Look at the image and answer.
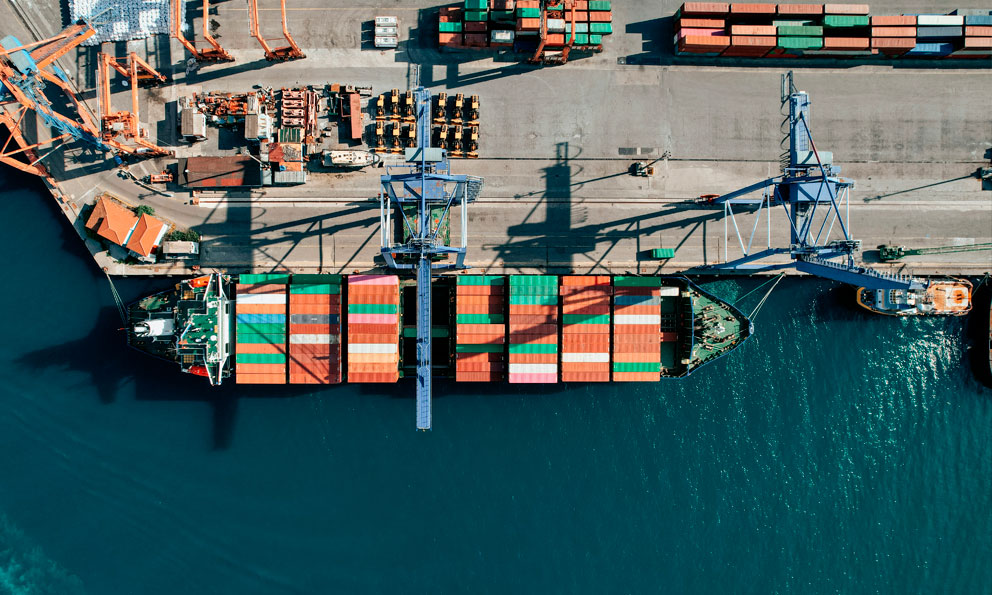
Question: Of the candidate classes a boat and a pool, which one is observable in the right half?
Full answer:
It is a boat that can be seen in the right half.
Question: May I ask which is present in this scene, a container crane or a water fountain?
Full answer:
I can see a container crane in this picture.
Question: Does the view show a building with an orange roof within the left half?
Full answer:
Yes, you'll find a building with an orange roof within the left half.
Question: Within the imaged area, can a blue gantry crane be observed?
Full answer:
Yes, this view includes a blue gantry crane.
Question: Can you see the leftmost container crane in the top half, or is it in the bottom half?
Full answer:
The top half of the photo is where the leftmost container crane is.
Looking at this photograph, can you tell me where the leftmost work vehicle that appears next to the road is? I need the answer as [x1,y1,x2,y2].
[140,172,174,184]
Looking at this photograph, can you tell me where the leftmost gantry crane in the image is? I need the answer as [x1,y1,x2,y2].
[0,8,122,181]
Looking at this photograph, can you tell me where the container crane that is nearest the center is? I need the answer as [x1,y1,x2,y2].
[377,57,480,432]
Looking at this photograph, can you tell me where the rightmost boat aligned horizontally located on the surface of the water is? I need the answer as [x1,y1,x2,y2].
[852,279,973,316]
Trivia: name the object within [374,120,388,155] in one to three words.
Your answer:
vehicle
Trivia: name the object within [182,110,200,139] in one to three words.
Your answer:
building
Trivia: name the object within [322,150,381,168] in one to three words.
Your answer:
boat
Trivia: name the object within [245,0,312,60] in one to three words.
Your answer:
container crane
